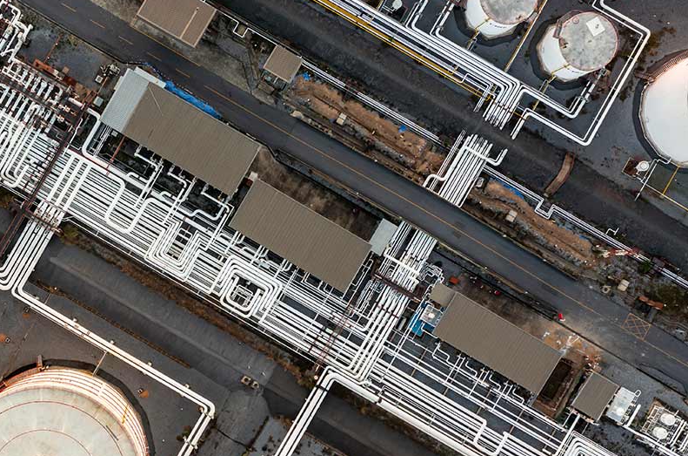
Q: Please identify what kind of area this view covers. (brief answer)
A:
industrial area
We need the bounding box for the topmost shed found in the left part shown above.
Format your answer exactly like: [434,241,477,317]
[137,0,217,52]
